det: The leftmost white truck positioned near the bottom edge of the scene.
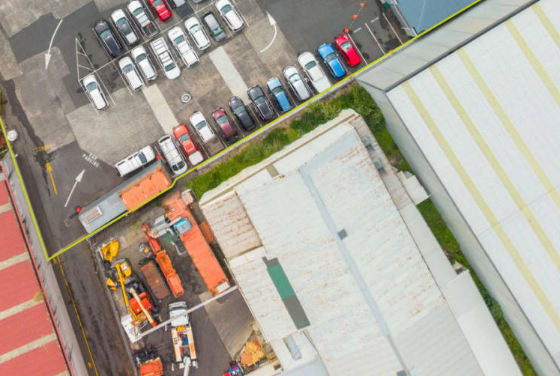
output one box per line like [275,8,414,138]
[168,300,200,376]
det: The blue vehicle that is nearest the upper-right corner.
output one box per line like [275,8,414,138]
[319,42,346,80]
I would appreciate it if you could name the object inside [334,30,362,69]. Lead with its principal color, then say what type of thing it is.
red car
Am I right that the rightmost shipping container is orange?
Yes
